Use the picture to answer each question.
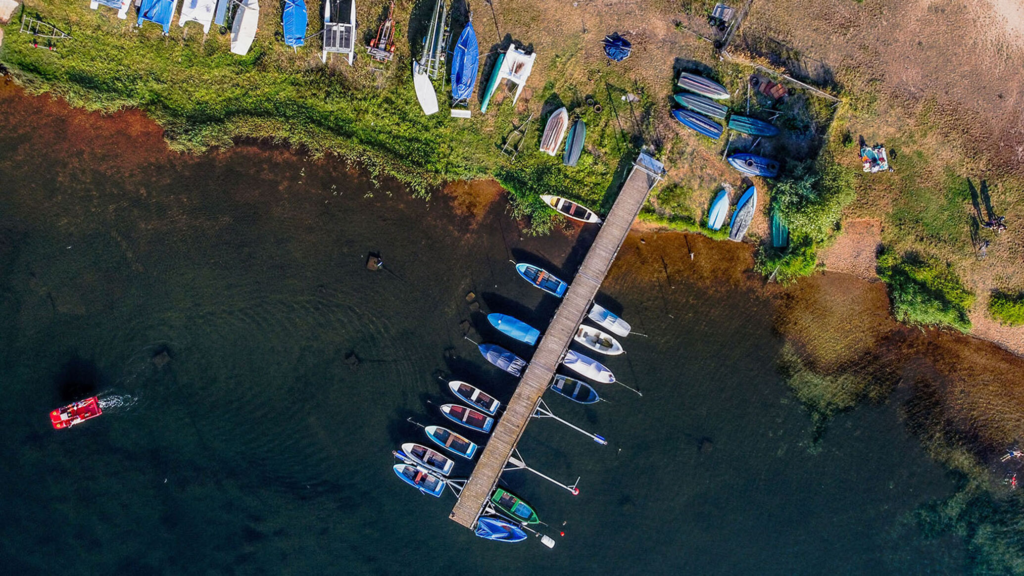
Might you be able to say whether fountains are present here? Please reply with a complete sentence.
No, there appears to be no fountain in this shot.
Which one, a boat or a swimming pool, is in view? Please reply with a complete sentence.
The image shows a boat.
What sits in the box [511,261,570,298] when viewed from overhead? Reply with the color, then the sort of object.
blue boat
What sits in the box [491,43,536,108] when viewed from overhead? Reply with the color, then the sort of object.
white boat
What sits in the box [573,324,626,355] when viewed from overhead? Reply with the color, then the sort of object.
white boat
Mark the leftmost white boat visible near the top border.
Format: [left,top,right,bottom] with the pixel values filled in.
[92,0,132,22]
